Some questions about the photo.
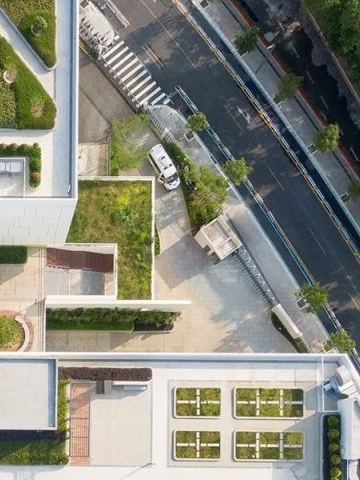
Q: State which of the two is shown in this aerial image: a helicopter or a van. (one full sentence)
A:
There is a van in the scene.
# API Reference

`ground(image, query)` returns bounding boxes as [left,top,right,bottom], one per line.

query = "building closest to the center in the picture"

[189,216,242,267]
